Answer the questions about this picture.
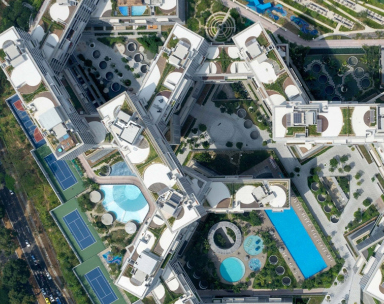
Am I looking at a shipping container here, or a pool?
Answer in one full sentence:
Looking from above, you can make out a pool.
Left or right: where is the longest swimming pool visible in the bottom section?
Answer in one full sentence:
You can find the longest swimming pool visible in the bottom section on the right side of the picture.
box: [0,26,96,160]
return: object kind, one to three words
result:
building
